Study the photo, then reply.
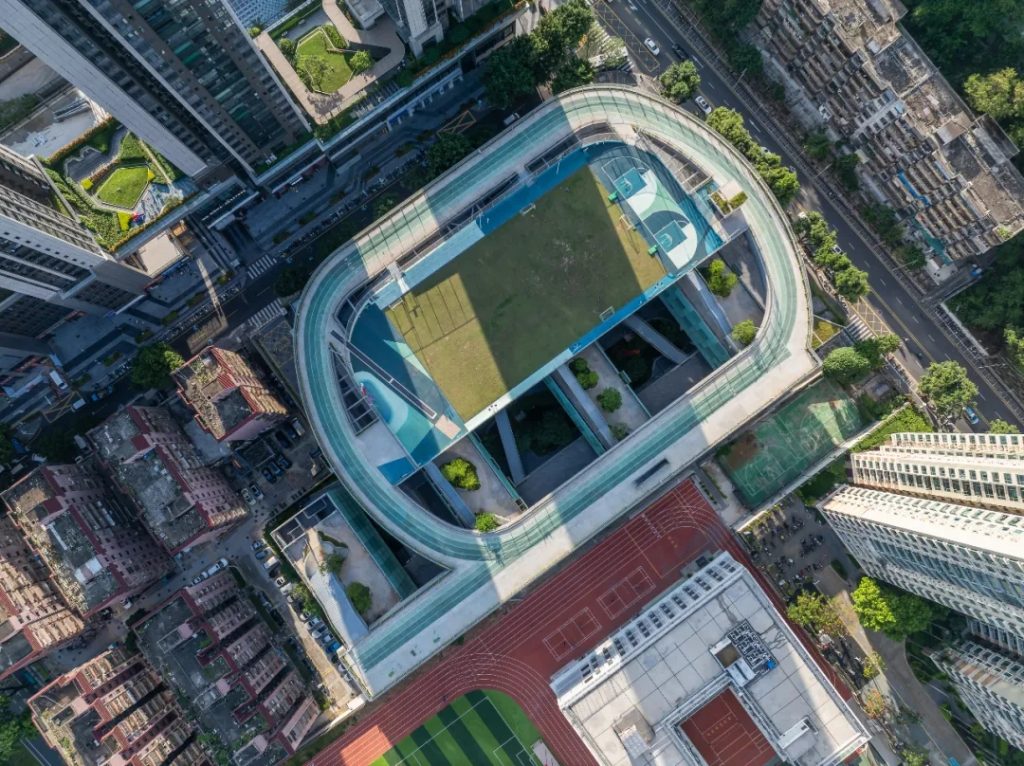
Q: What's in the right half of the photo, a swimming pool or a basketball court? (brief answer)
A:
basketball court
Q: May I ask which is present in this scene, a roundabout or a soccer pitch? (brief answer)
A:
soccer pitch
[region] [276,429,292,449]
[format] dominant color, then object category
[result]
black car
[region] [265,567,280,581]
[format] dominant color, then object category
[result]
black car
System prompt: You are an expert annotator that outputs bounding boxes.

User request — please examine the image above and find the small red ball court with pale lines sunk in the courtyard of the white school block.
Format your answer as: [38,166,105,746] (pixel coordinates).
[673,684,773,766]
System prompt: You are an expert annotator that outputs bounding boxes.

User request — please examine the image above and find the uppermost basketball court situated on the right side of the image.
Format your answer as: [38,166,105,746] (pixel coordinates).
[583,142,724,269]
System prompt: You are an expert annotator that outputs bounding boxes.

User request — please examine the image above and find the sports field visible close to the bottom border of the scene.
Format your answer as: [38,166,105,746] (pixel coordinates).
[375,689,549,766]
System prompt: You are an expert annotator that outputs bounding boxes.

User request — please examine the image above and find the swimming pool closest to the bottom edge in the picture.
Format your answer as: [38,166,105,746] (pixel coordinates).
[360,378,392,421]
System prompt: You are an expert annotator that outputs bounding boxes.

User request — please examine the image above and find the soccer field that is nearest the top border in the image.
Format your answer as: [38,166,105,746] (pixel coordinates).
[374,149,677,430]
